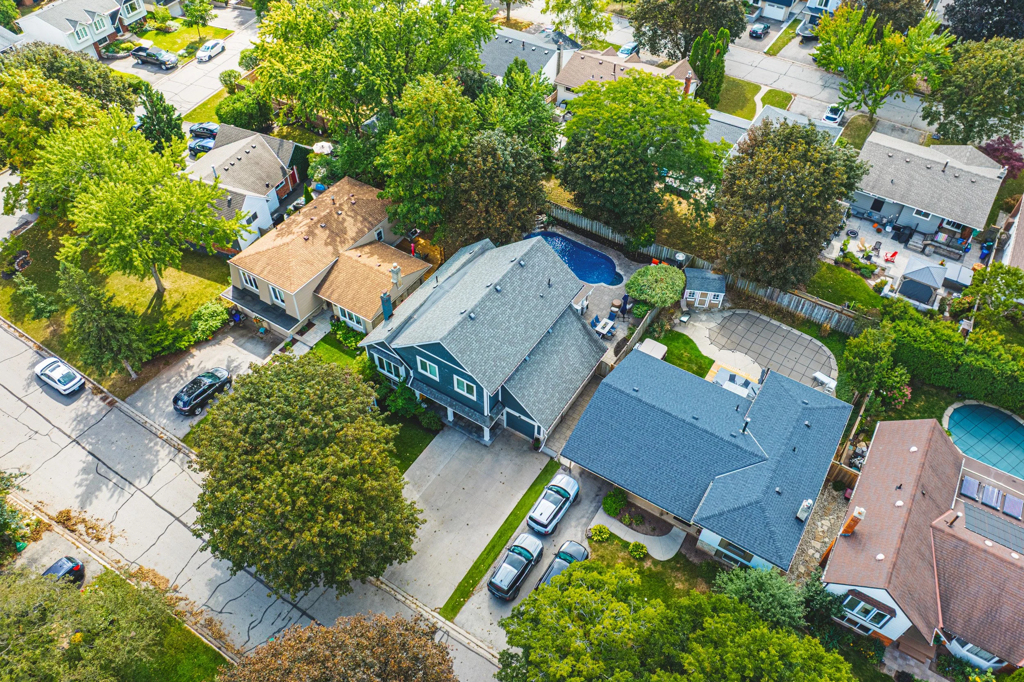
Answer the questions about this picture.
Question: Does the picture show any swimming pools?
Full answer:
Yes, the image includes a swimming pool.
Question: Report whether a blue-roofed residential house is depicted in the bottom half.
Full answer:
Yes, a blue-roofed residential house is visible in the bottom half.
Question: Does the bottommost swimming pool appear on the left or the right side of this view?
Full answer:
It is on the right.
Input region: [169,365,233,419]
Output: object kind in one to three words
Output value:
car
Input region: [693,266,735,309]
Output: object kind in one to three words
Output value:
shed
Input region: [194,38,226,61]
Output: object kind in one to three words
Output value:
car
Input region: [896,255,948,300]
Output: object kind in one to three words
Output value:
gazebo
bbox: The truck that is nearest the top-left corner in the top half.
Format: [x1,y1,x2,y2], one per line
[129,45,179,69]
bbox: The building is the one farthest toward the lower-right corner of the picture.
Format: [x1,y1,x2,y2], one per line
[806,417,1024,682]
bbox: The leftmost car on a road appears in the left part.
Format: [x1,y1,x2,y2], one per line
[31,361,89,402]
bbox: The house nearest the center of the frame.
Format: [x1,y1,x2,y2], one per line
[358,238,613,462]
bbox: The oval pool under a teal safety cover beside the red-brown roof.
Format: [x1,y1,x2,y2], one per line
[942,399,1024,482]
